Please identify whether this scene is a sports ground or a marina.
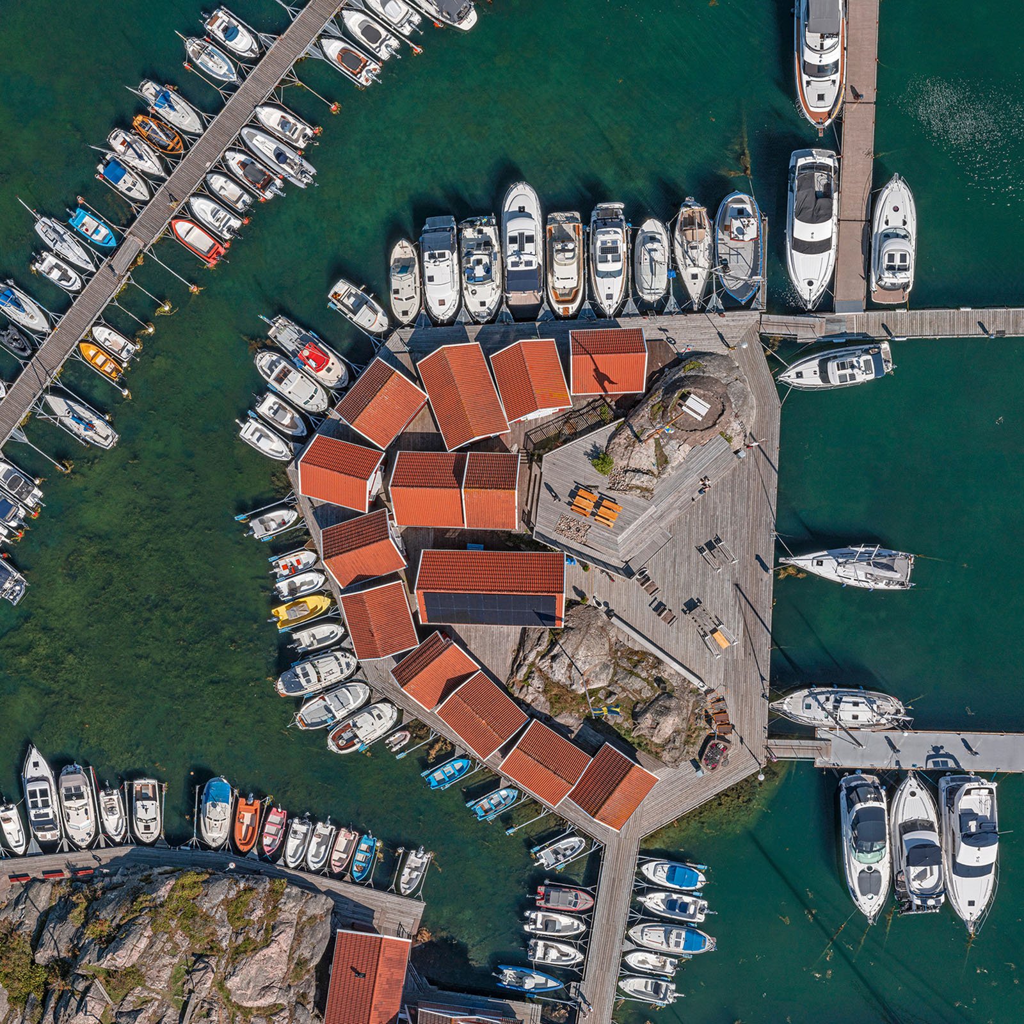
marina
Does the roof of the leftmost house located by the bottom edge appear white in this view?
No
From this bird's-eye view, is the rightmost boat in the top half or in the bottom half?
bottom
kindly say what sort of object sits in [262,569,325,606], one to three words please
boat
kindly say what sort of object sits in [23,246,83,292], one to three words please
boat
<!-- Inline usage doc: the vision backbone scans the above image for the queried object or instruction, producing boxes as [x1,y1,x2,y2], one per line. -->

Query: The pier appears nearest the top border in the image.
[842,0,879,103]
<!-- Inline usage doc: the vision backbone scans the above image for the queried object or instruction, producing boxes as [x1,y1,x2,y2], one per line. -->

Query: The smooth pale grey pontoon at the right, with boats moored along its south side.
[814,728,1024,772]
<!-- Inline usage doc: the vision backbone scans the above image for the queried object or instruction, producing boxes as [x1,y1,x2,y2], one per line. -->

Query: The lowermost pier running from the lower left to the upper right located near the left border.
[0,259,136,452]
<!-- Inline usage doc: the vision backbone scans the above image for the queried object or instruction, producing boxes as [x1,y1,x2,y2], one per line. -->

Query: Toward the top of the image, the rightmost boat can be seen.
[866,170,921,309]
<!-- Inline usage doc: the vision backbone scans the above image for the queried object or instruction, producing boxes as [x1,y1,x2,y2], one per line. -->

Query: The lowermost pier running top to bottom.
[575,838,639,1024]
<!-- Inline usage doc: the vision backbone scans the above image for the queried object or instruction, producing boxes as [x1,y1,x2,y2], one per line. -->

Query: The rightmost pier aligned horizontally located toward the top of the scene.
[854,308,1024,339]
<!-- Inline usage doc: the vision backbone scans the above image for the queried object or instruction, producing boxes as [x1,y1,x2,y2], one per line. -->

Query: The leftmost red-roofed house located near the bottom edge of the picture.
[321,928,413,1024]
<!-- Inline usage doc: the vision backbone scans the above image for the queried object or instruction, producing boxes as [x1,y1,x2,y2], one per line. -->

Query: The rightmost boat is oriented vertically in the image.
[935,770,1002,936]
